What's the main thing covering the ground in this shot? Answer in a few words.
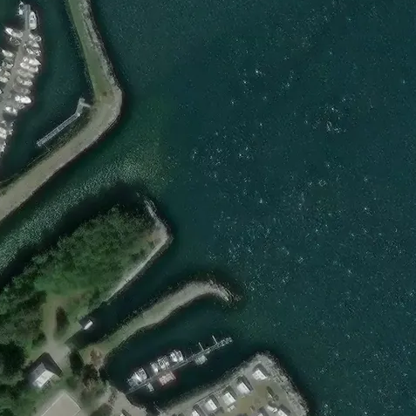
water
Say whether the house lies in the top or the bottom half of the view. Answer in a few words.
bottom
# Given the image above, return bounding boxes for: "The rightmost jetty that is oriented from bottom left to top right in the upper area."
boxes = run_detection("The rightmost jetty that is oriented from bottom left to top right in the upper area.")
[37,98,91,150]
